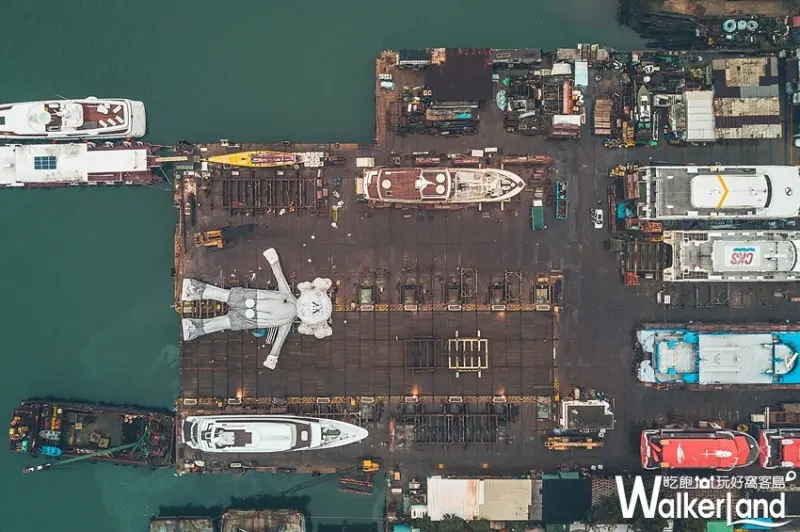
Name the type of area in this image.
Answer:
port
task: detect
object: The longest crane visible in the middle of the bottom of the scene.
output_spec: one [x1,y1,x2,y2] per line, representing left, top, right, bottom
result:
[284,458,381,496]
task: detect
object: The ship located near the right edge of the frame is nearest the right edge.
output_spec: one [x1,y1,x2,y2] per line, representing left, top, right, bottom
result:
[754,429,800,470]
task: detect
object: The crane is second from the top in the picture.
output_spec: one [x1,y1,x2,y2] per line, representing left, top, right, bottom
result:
[545,437,604,449]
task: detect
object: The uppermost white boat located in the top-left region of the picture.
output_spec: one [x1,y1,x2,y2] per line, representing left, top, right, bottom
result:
[0,94,149,139]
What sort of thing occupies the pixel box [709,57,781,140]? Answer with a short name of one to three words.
building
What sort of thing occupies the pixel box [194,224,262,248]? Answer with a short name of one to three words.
crane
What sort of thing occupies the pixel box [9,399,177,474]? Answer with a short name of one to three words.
ship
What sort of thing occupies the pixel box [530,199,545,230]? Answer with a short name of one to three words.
vehicle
